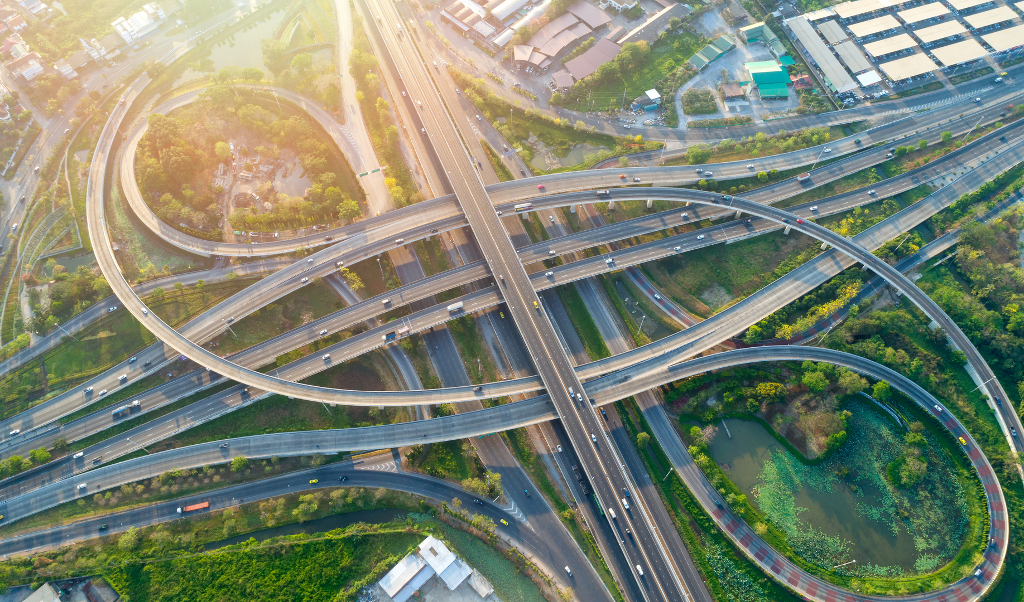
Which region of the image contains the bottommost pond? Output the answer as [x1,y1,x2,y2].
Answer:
[711,393,970,577]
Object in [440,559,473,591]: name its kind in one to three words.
building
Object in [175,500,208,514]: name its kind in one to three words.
vehicle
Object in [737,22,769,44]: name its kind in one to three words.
building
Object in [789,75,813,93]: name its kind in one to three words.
house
